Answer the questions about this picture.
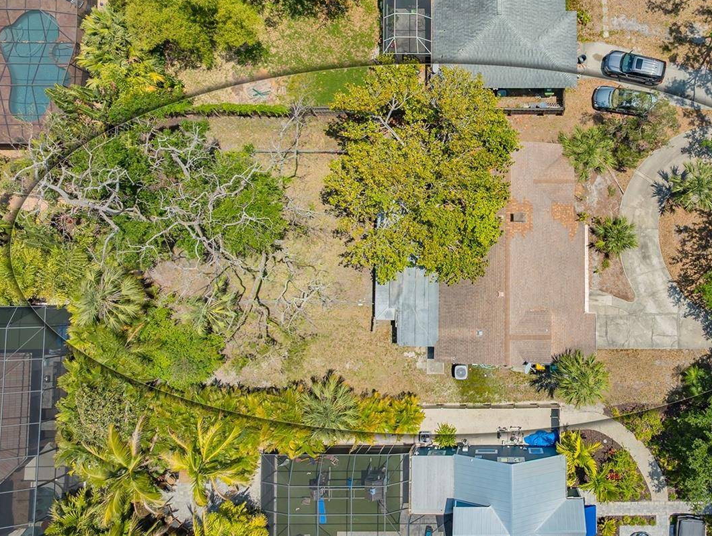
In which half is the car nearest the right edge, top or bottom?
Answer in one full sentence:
You can find the car nearest the right edge in the bottom half.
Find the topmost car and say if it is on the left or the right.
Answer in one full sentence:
The topmost car is on the right side of the image.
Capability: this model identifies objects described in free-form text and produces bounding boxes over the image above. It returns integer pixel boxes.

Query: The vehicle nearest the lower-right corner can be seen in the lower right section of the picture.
[671,513,701,536]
